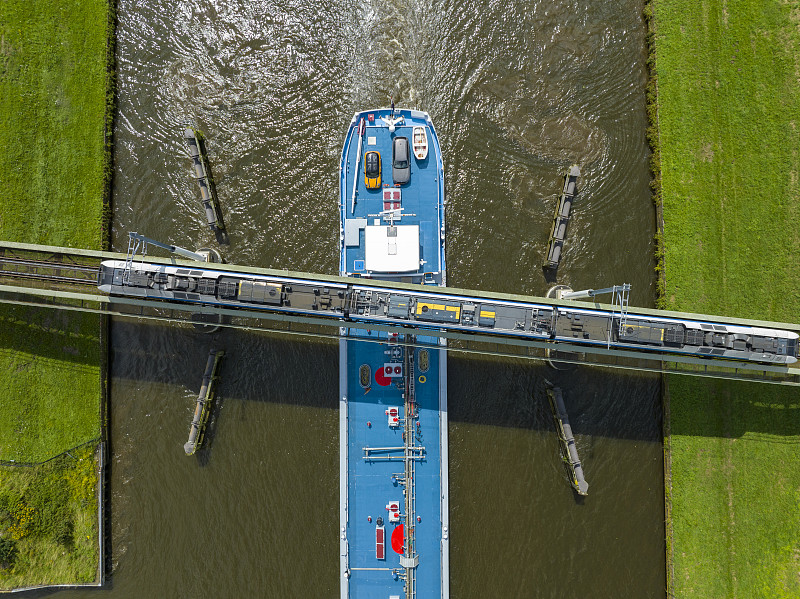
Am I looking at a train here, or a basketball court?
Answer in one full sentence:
Looking from above, you can make out a train.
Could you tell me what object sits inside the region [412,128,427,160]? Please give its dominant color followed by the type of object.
white boat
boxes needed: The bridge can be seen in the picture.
[0,241,800,387]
